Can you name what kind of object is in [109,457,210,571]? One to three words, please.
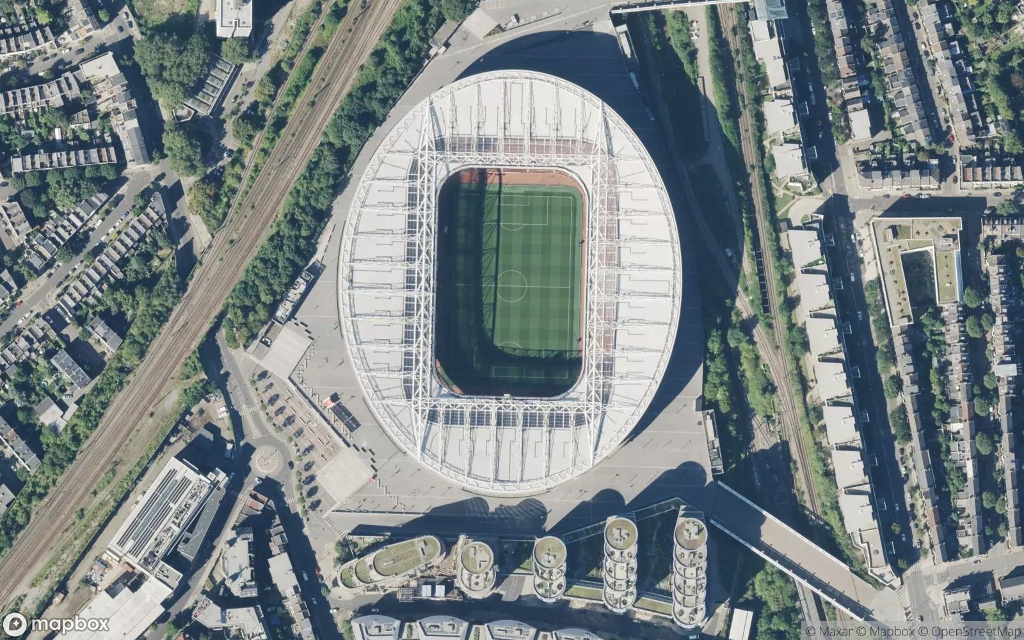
building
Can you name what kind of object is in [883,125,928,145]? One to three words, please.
house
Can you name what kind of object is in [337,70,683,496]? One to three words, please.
stadium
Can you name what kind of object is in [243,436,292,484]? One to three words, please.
roundabout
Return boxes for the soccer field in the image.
[443,182,583,389]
